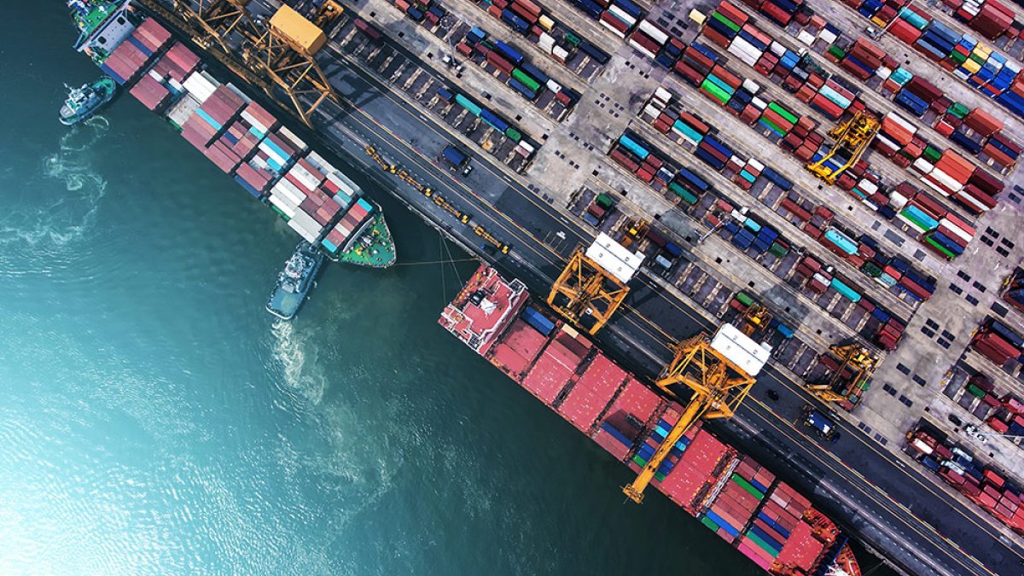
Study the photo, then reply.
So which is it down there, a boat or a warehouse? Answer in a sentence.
Visible in the photo is a boat.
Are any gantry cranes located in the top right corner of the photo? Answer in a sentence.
Yes, a gantry crane is visible in the top right corner of the photo.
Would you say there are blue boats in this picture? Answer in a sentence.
Yes, the photo shows a blue boat.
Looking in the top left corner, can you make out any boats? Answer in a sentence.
Yes, the scene does show a boat in the top left corner.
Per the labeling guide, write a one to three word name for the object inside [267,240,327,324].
boat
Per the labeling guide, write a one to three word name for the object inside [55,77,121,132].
boat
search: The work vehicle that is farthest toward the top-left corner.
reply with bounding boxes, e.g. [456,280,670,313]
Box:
[361,145,399,175]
